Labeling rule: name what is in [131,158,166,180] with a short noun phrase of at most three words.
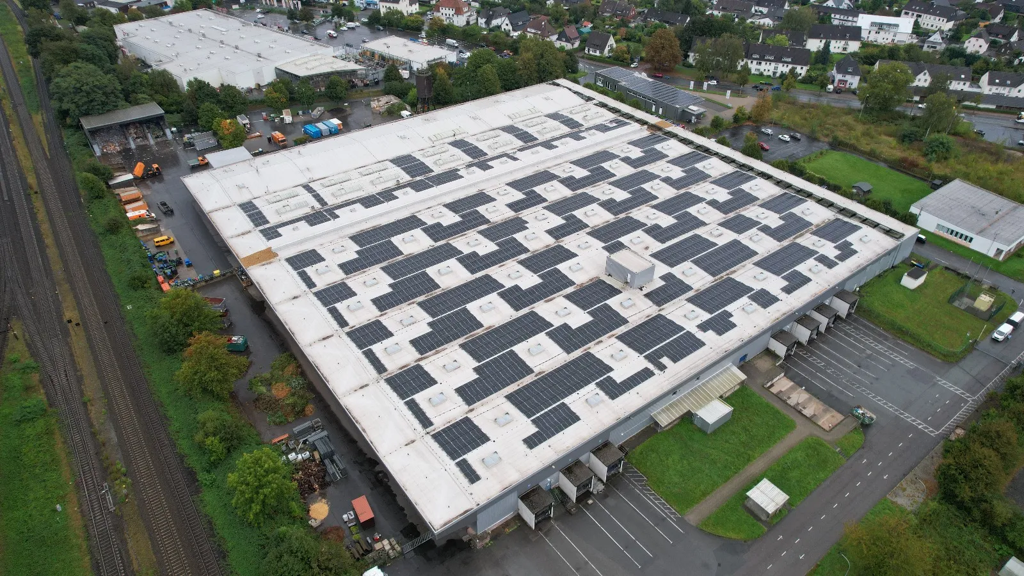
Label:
truck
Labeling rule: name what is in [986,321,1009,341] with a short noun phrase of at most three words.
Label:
vehicle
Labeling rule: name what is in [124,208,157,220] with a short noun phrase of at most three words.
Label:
vehicle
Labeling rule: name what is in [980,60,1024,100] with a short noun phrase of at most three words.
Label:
house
